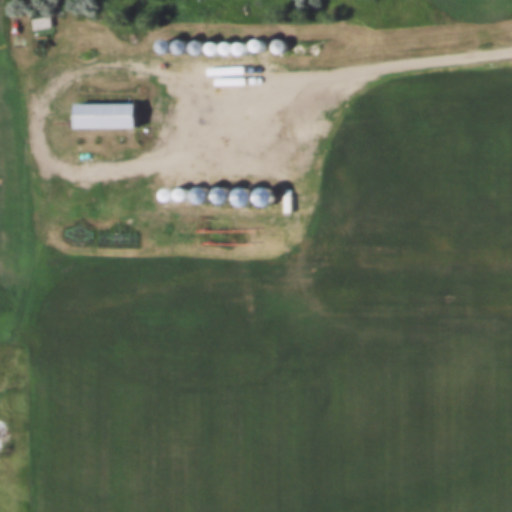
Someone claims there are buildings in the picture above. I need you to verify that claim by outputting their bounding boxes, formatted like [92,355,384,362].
[32,18,54,37]
[72,104,134,130]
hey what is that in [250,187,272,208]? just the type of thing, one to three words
silo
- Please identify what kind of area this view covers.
farmland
